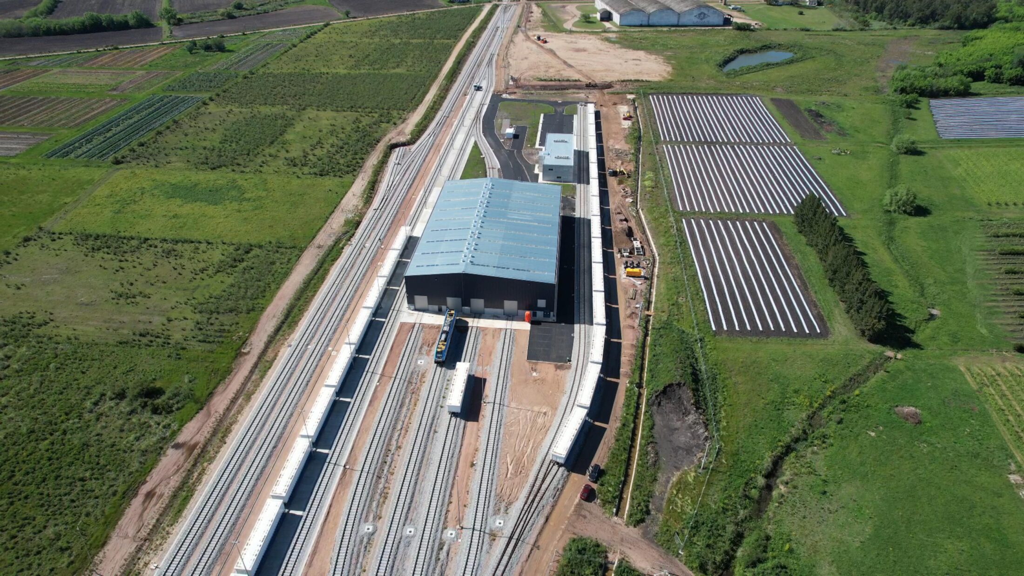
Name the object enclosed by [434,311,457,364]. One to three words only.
rail car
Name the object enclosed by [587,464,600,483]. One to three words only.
vehicle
